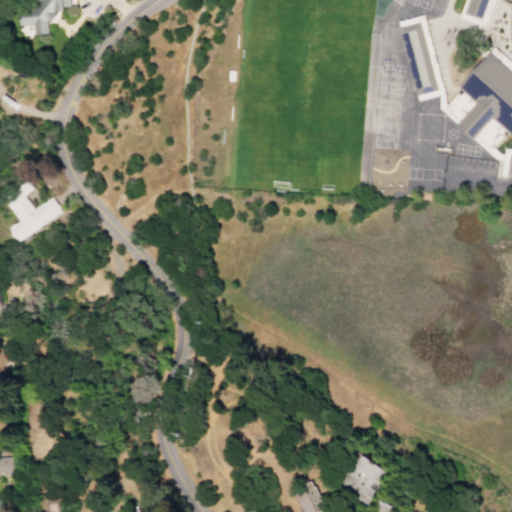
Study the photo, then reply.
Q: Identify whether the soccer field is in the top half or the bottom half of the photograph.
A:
top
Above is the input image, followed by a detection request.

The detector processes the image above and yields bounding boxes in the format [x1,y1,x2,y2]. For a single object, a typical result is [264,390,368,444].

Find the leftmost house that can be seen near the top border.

[19,0,62,34]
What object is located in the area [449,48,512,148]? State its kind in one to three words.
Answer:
building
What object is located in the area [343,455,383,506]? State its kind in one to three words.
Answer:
house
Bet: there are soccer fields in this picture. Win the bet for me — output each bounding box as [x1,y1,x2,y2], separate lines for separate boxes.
[235,0,376,188]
